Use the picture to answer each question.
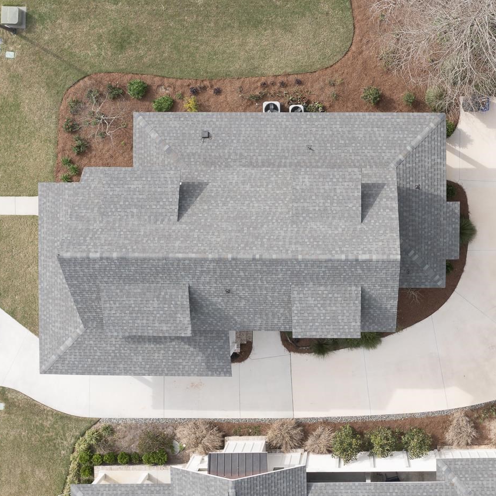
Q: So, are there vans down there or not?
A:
No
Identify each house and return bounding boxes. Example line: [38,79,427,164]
[38,111,460,378]
[69,436,496,496]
